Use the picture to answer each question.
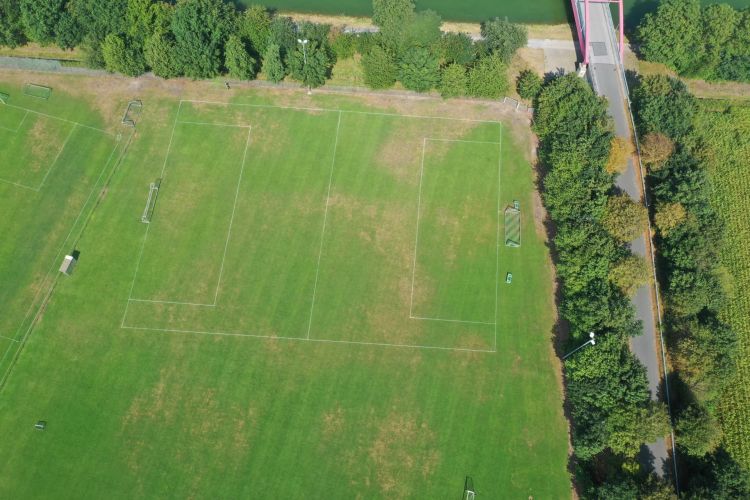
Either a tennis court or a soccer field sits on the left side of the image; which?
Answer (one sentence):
What appears on the left side of the image is a soccer field.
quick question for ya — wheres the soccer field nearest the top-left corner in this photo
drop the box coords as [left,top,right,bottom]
[0,106,118,367]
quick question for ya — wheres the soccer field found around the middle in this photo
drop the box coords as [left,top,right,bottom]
[122,100,501,351]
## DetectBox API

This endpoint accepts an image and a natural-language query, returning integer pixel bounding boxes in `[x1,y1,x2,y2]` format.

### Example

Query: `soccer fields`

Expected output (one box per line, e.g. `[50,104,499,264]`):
[0,106,118,367]
[122,100,501,351]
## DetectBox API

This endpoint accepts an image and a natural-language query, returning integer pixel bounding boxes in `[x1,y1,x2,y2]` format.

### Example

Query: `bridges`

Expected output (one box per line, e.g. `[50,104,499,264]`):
[571,0,626,96]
